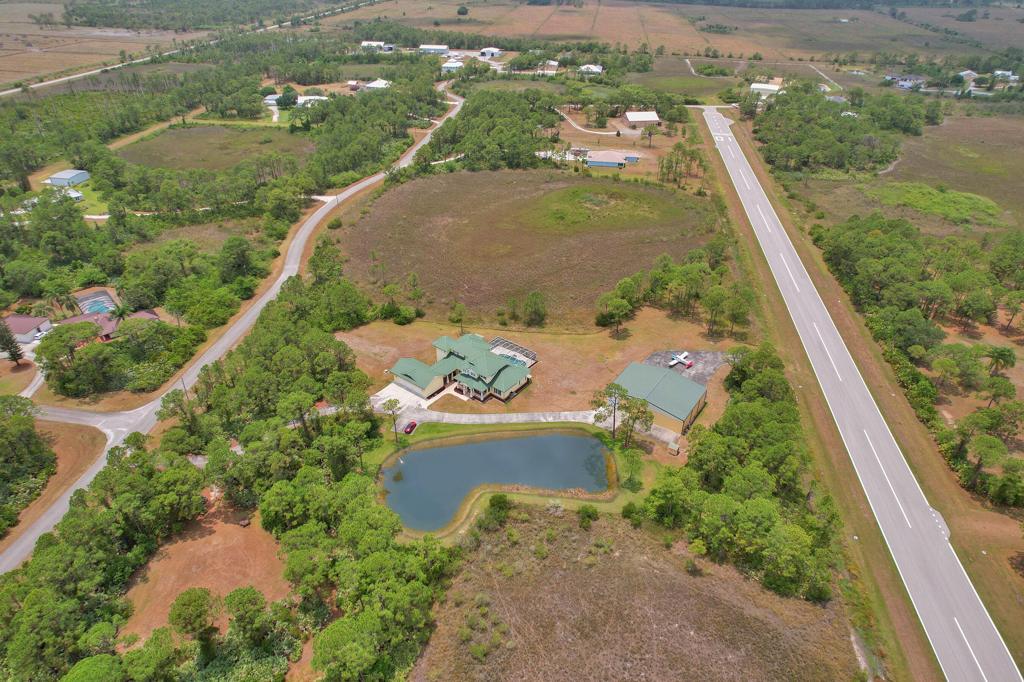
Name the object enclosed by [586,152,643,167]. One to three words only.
house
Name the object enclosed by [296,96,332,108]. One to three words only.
house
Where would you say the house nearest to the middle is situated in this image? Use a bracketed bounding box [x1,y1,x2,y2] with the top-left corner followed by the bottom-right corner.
[389,332,533,400]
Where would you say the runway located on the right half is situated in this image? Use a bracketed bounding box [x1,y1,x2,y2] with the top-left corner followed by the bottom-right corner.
[703,103,1024,682]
